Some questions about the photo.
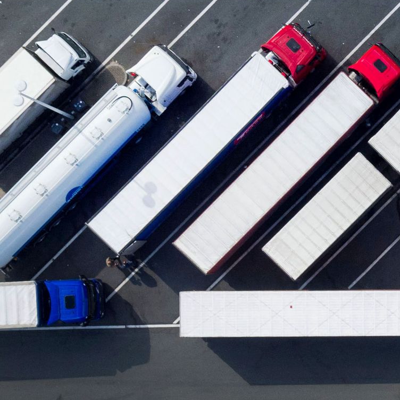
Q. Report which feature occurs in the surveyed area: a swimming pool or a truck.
truck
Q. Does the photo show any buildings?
No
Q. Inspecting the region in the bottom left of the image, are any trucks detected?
Yes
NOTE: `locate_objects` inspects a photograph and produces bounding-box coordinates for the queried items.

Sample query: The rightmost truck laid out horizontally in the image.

[179,289,400,337]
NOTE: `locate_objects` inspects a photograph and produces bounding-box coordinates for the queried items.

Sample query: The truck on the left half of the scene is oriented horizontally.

[0,276,109,328]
